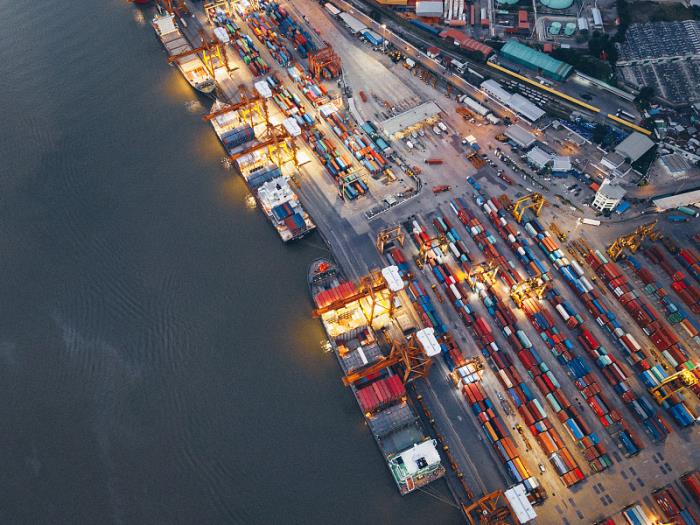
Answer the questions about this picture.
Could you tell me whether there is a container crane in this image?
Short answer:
Yes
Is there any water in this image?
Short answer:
Yes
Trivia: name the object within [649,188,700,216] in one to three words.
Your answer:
building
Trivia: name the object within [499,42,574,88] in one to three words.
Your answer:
building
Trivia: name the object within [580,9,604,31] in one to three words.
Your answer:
shed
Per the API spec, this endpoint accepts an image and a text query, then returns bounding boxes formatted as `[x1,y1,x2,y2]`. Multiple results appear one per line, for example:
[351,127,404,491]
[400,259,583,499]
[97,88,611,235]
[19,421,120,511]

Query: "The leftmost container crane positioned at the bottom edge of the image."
[471,479,543,525]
